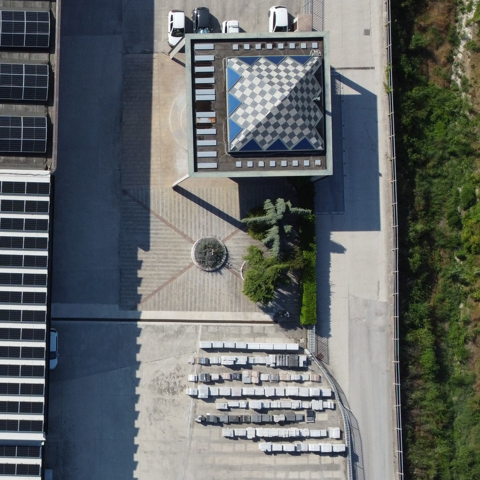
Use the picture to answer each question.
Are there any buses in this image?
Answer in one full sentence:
No, I can see no bus in this picture.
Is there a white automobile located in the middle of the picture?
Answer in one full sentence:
No, I can find no white automobile in the middle of the picture.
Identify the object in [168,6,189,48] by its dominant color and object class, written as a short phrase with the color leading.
white car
